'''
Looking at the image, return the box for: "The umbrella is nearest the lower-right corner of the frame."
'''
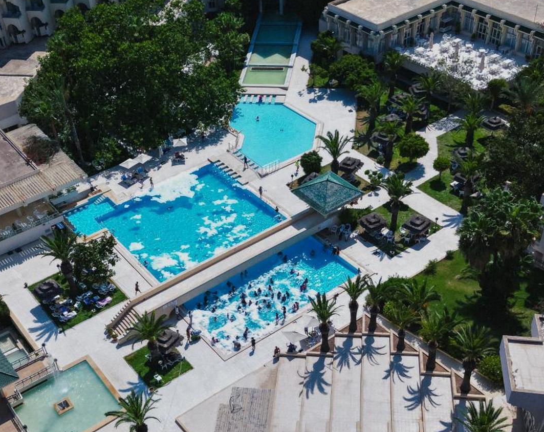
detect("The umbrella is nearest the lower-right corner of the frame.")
[401,216,434,240]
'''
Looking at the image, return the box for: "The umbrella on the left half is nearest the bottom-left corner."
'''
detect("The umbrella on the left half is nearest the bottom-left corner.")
[36,278,63,301]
